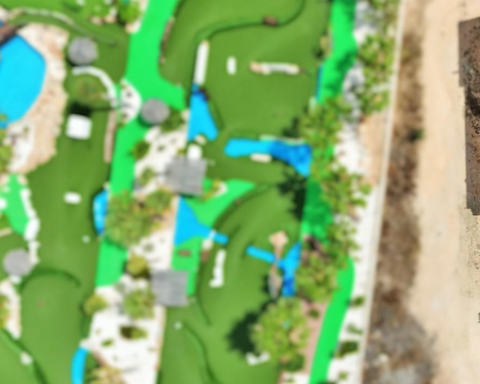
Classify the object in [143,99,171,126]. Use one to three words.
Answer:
umbrella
